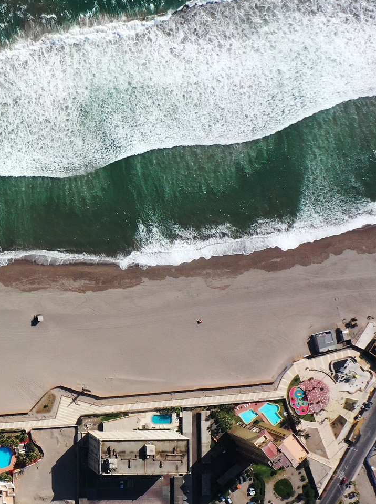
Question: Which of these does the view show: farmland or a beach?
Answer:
beach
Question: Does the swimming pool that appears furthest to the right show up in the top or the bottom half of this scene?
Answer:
bottom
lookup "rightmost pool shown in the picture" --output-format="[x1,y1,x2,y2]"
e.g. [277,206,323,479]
[258,402,281,426]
